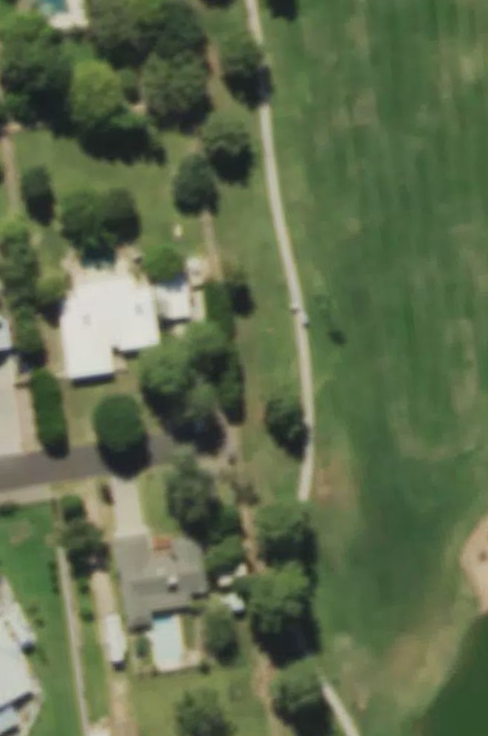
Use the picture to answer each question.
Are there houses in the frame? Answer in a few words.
Yes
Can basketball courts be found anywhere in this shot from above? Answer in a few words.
No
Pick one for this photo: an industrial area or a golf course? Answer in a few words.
golf course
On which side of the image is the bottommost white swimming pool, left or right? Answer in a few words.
left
